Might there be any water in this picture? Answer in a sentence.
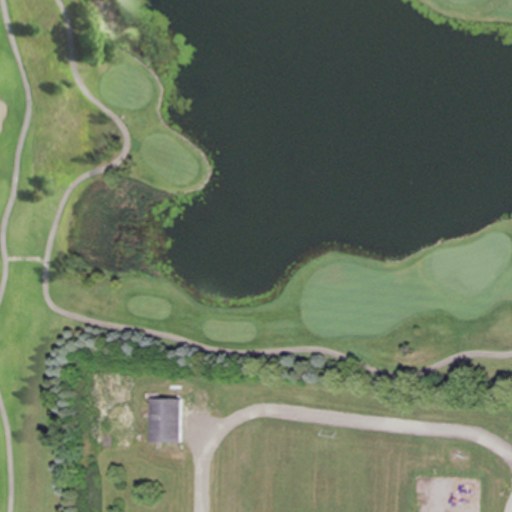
Yes, some water is visible.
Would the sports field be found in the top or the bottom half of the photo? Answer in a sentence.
It is in the bottom half that the sports field appears.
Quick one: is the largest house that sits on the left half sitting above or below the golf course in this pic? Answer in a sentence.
The largest house that sits on the left half is found below the golf course in the photo.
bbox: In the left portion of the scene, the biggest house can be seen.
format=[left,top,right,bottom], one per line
[148,398,184,444]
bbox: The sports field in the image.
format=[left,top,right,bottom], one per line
[190,418,510,512]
